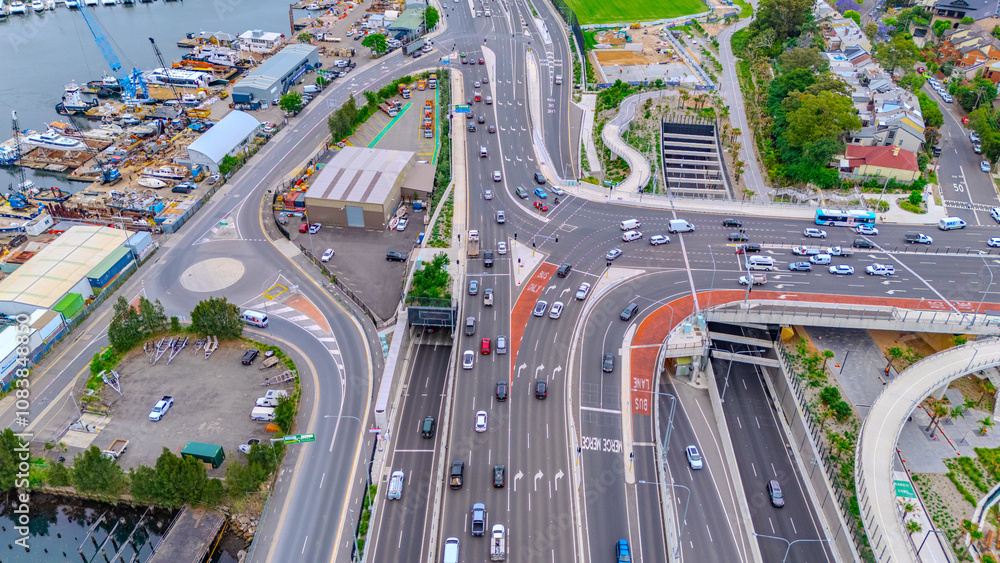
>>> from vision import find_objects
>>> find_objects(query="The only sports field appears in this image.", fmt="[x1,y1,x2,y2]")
[566,0,748,26]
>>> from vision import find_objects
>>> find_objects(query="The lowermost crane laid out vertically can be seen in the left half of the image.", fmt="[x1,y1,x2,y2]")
[2,107,31,217]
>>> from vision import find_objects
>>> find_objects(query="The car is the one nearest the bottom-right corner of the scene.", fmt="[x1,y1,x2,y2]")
[767,480,783,505]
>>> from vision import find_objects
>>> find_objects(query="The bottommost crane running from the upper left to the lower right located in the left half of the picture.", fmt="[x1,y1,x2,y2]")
[63,104,127,188]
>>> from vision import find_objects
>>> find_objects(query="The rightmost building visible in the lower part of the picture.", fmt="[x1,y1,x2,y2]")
[672,355,698,374]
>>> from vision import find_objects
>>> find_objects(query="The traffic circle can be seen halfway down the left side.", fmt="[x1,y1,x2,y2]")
[180,257,245,292]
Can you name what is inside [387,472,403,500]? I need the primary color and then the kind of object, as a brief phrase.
white vehicle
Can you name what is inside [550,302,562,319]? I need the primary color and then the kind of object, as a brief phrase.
white vehicle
